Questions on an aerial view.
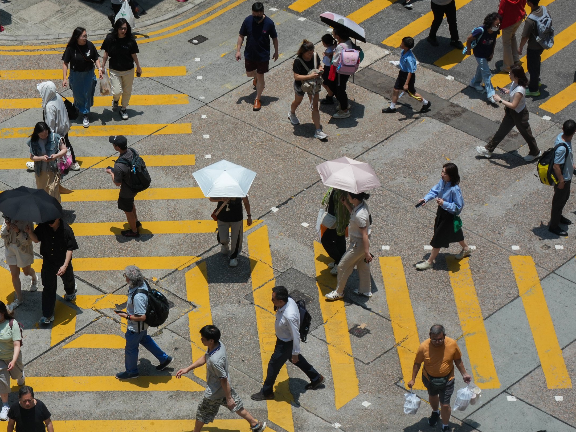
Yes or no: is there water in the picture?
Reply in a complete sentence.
No, there's no water in this view.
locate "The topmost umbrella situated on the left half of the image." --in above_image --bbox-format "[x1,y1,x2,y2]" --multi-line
[191,159,257,195]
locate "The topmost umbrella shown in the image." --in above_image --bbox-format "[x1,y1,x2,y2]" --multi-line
[316,21,374,44]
